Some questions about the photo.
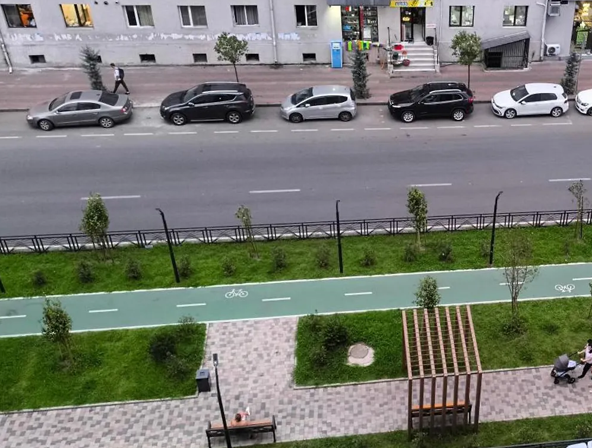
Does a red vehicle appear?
No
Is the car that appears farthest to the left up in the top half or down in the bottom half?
top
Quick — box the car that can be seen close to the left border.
[22,88,132,130]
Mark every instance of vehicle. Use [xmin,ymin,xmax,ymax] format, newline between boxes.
[279,83,357,122]
[387,79,477,122]
[490,81,572,119]
[158,80,255,126]
[572,87,592,116]
[22,88,132,130]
